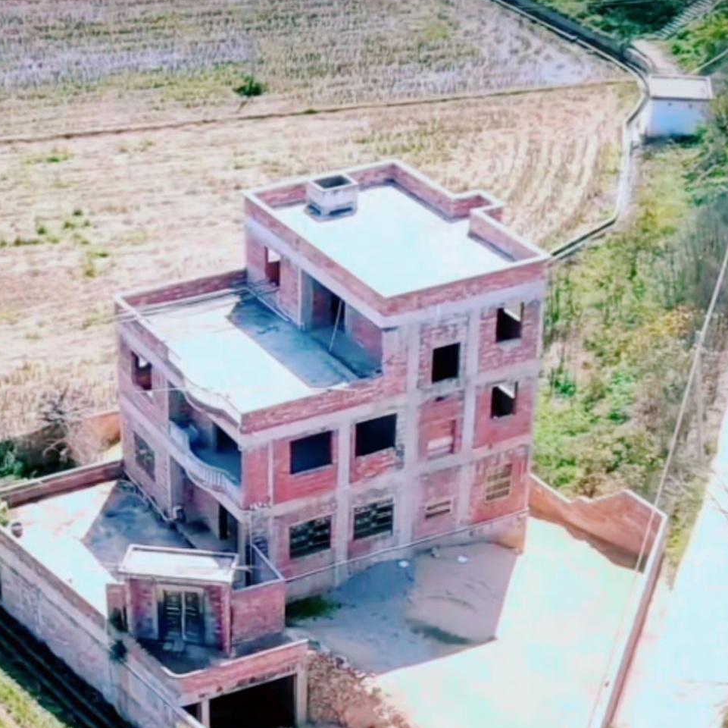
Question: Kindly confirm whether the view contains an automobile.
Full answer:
No, I can't see a single automobile in this photo.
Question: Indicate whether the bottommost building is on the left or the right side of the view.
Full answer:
It is on the left.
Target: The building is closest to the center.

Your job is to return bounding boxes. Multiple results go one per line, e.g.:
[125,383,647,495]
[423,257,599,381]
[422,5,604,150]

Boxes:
[116,163,548,612]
